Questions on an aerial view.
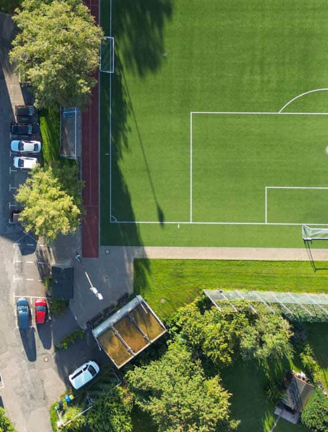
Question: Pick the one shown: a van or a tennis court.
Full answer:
Looking from above, you can make out a van.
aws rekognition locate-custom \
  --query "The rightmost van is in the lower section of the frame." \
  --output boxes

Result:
[69,360,99,390]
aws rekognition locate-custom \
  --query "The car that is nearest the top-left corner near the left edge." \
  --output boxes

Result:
[12,105,41,119]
